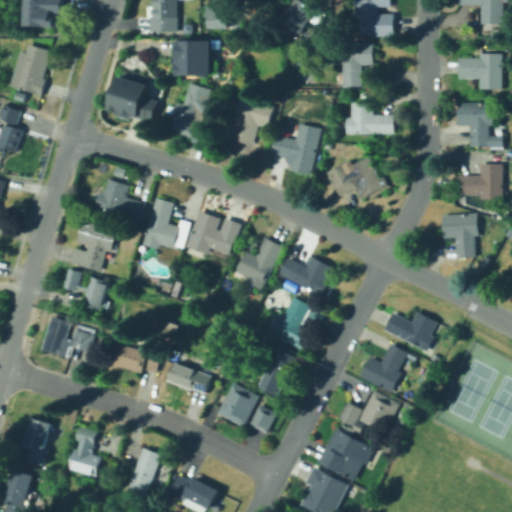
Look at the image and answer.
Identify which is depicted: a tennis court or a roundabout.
tennis court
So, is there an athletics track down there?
No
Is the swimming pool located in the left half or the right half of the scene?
left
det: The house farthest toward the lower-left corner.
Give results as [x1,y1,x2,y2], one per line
[2,472,32,512]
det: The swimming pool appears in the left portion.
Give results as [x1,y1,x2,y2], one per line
[142,258,170,278]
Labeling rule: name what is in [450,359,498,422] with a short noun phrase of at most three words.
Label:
tennis court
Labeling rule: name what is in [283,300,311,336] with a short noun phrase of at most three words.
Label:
house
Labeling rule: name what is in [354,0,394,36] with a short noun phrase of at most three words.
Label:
house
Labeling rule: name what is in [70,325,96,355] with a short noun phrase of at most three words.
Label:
building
